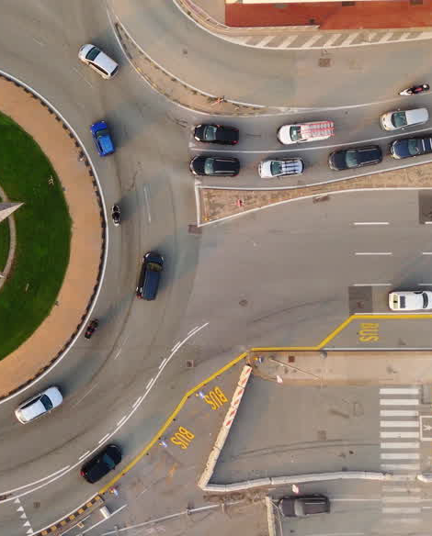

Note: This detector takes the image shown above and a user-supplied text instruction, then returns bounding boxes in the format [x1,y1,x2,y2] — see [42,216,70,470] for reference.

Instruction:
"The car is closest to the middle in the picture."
[134,250,163,302]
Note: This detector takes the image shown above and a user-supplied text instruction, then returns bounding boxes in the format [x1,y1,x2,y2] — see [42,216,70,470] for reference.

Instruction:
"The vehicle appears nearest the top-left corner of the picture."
[77,42,119,81]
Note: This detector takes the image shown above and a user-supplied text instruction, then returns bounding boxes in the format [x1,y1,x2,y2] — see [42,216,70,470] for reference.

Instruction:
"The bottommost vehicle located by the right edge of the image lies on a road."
[386,288,432,312]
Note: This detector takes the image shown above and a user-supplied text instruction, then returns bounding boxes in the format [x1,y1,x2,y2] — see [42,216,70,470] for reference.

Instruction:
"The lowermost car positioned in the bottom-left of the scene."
[76,444,123,482]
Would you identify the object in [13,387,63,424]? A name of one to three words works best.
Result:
car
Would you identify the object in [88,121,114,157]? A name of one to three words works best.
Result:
car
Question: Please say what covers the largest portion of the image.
paved ground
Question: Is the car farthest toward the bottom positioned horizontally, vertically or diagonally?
horizontally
